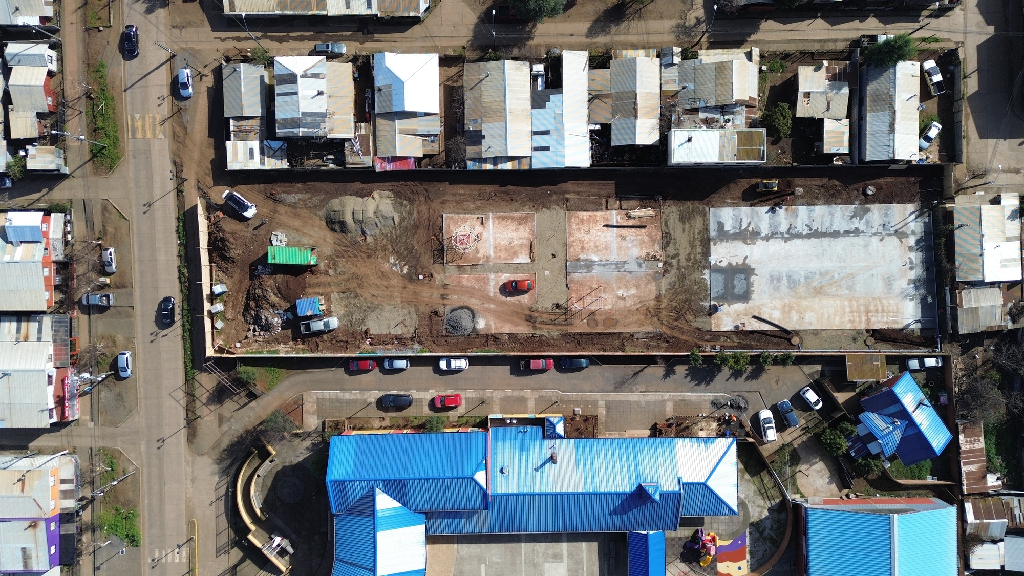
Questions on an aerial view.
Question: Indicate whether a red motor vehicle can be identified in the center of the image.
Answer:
Yes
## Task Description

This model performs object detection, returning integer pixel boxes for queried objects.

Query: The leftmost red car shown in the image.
[350,357,378,373]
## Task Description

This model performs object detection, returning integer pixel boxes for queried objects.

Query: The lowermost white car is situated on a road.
[758,408,777,443]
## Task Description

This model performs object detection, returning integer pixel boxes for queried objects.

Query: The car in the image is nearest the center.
[505,278,535,294]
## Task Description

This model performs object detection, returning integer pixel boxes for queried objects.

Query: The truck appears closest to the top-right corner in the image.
[921,59,947,98]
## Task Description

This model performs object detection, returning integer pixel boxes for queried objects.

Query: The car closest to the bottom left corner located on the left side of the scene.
[116,349,135,378]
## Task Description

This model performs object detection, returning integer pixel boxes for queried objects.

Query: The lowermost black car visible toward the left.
[382,392,413,409]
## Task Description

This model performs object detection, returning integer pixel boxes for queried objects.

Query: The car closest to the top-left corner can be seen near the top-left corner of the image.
[122,25,142,57]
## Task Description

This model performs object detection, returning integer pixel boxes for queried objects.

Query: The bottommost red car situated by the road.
[434,393,462,410]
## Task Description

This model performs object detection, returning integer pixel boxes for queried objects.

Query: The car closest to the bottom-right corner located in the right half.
[904,355,943,370]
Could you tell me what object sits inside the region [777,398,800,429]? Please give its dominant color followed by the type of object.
blue car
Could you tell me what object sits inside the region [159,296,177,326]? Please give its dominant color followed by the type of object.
black car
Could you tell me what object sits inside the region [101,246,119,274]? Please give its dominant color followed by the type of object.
gray car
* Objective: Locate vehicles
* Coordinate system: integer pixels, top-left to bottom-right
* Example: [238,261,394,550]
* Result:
[758,408,777,443]
[382,392,413,409]
[350,357,378,373]
[83,292,116,309]
[122,25,142,57]
[439,356,469,372]
[904,355,943,370]
[384,356,411,372]
[314,40,347,58]
[798,384,822,412]
[505,278,535,294]
[520,356,554,373]
[298,316,339,335]
[159,296,177,326]
[116,349,135,378]
[921,59,947,98]
[777,398,800,429]
[101,246,119,274]
[560,356,590,371]
[530,60,547,90]
[222,189,256,218]
[755,178,781,193]
[919,119,942,150]
[434,393,462,410]
[178,68,196,98]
